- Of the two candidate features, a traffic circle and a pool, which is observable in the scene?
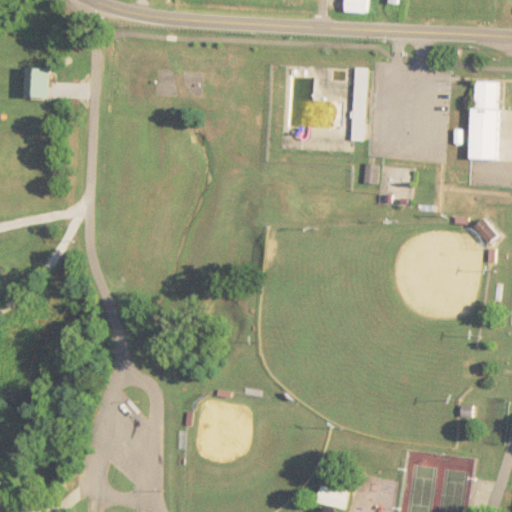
pool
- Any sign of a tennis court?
Yes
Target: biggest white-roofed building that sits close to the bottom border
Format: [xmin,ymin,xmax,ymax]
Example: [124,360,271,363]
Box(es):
[316,491,352,510]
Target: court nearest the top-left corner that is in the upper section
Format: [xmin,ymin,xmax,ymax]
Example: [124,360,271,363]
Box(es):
[157,70,177,96]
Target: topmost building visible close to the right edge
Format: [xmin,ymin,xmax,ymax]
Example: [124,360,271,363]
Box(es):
[474,80,502,108]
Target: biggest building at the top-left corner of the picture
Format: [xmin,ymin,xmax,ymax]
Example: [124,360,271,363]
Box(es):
[24,68,50,100]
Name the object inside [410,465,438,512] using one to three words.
tennis court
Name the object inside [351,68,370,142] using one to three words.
building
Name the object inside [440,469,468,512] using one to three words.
tennis court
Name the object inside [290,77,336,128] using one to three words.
swimming pool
